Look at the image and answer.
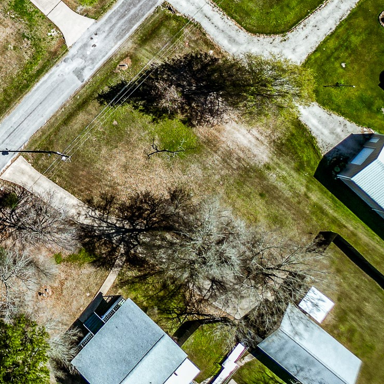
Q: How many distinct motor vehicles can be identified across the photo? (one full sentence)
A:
I count no motor vehicles.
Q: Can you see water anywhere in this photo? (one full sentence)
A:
No, there's no water in this view.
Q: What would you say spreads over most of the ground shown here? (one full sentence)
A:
The scene is dominated by grass.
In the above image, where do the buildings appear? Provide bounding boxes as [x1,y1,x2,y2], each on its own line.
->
[335,134,384,221]
[251,301,366,384]
[68,295,200,384]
